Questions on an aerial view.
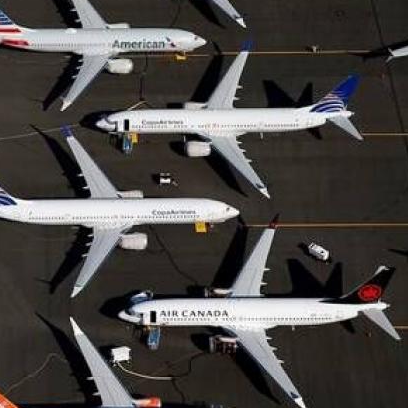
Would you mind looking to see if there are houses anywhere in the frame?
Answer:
No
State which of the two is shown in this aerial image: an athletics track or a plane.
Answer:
plane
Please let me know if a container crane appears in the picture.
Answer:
No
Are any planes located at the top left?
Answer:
Yes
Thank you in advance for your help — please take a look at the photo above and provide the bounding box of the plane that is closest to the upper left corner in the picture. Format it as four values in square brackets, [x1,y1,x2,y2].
[0,0,208,108]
